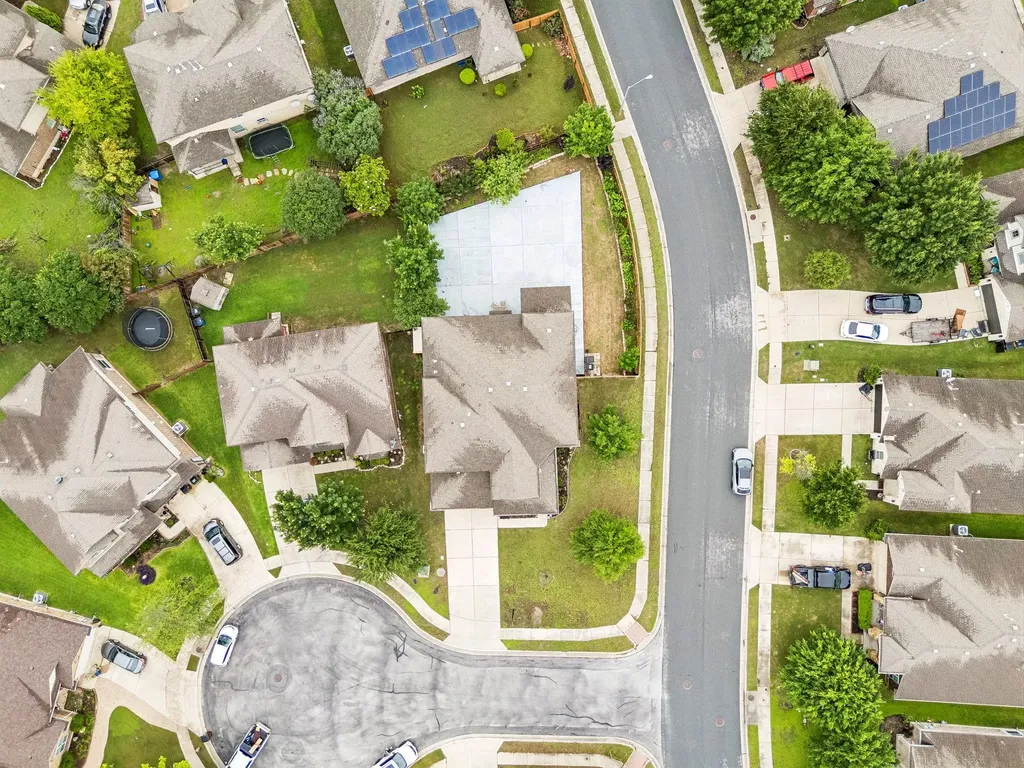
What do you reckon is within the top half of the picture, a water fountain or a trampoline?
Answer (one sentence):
Visible within the top half of the picture is a trampoline.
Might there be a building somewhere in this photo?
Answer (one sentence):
Yes, there's a building here.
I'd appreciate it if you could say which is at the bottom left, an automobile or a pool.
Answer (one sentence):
The feature located at the bottom left is an automobile.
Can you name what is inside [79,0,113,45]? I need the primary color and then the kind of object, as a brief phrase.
gray car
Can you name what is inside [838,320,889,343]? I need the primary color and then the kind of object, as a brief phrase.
white car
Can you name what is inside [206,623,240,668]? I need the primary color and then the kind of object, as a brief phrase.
white car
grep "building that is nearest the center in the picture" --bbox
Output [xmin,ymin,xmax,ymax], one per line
[412,286,579,517]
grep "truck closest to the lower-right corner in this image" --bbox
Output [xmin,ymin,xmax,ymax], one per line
[787,564,853,591]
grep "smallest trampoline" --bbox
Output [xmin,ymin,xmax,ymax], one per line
[244,120,295,163]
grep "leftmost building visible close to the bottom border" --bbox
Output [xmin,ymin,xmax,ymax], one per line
[0,595,108,768]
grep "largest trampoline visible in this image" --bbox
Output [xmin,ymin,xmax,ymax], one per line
[118,306,172,351]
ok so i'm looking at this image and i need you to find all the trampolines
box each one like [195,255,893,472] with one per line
[244,120,295,163]
[118,306,172,351]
